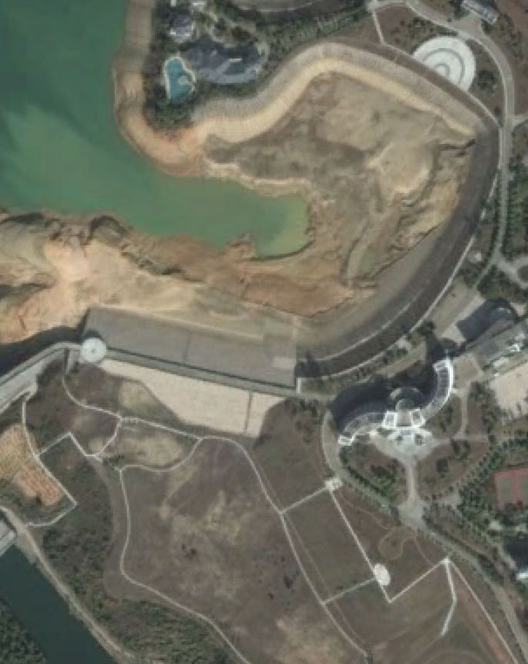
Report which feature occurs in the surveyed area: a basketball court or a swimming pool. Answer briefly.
swimming pool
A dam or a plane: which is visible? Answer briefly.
dam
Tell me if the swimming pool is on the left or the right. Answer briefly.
left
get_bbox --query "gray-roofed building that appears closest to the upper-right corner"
[463,0,501,25]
